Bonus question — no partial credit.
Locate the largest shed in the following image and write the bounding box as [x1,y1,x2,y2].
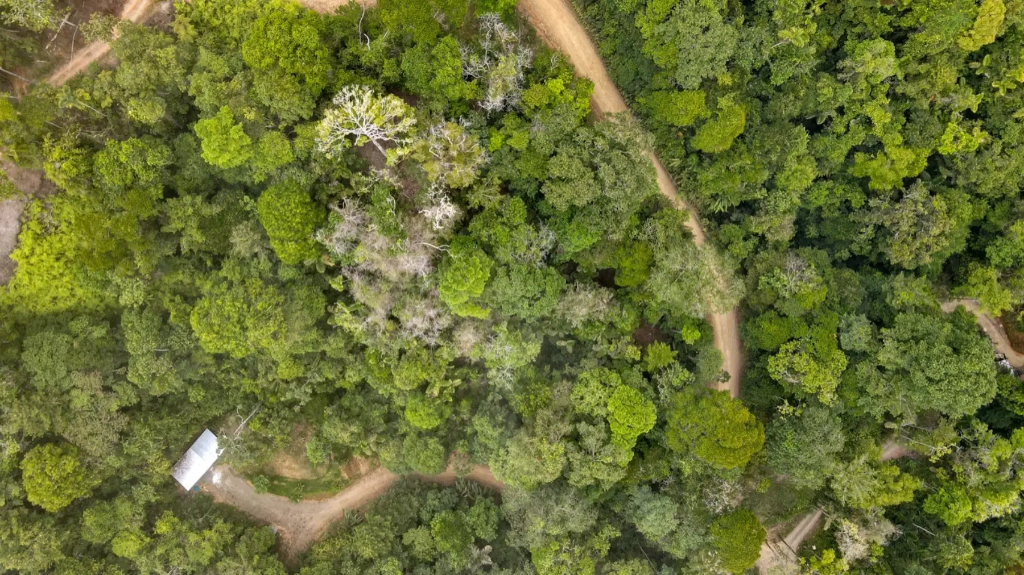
[169,429,225,490]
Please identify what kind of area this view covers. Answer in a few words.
forest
